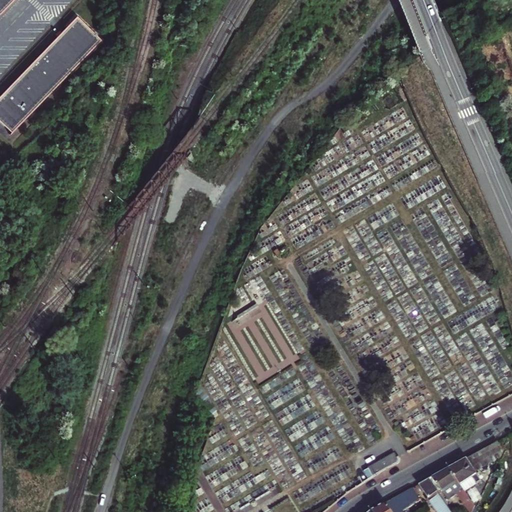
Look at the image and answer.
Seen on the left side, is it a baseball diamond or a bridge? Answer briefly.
bridge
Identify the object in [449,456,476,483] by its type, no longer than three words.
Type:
house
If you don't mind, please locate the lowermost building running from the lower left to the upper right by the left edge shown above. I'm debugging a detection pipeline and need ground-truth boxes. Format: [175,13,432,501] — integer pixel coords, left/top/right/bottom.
[0,14,102,134]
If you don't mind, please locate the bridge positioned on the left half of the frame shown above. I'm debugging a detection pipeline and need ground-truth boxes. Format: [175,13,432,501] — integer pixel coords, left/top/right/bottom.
[108,139,192,243]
